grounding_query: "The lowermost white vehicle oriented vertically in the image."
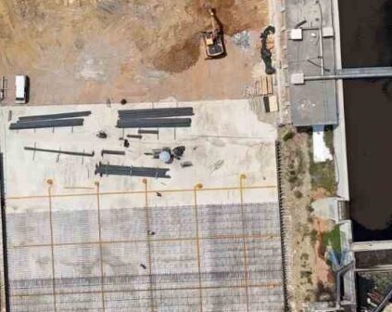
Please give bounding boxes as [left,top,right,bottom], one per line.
[14,74,27,102]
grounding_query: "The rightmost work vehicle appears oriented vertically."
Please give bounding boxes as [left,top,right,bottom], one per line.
[203,7,227,64]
